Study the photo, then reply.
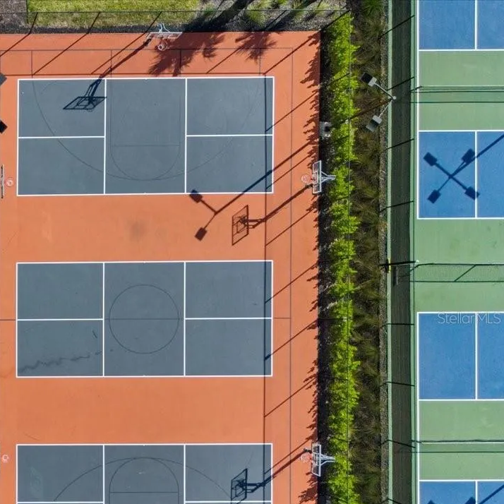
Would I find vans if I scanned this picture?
No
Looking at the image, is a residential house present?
No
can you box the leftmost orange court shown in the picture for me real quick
[0,31,320,504]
